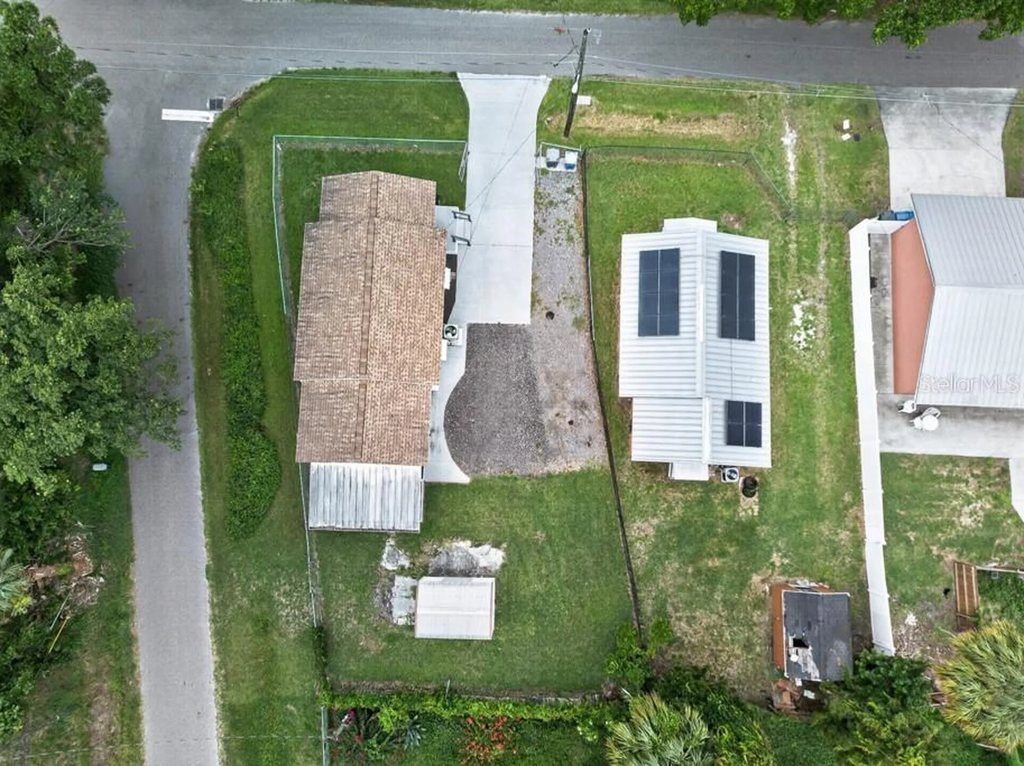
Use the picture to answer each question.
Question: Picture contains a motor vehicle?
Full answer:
No, no motor vehicle is visible in the scene.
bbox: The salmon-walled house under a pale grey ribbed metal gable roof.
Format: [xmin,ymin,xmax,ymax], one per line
[893,193,1024,410]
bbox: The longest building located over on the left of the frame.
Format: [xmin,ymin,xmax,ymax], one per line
[293,170,452,534]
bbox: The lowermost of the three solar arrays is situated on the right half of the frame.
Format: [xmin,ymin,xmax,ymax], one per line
[728,401,763,448]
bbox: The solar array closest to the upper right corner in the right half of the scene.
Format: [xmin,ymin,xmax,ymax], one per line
[721,250,756,341]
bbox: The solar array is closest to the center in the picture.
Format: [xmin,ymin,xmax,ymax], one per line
[638,247,679,336]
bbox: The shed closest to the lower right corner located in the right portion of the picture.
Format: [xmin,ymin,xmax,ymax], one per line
[773,585,853,682]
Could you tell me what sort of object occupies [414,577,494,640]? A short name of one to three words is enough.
shed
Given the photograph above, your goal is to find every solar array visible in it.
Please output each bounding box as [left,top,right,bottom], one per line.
[721,250,756,341]
[638,247,679,336]
[728,401,763,448]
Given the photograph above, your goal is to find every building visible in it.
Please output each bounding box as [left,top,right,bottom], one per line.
[773,585,853,682]
[893,193,1024,410]
[293,170,452,534]
[616,216,772,481]
[414,577,494,640]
